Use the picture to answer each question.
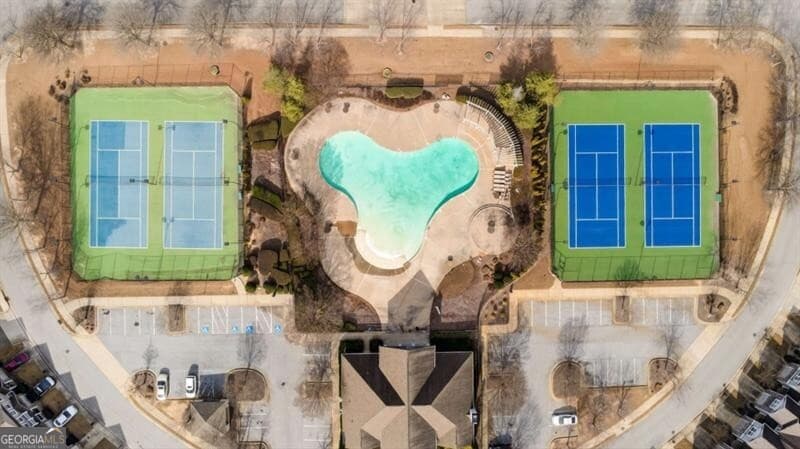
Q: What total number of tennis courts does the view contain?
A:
4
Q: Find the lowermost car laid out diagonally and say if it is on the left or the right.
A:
left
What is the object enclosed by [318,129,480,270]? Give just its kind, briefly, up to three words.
swimming pool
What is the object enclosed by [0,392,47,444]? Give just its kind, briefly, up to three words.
house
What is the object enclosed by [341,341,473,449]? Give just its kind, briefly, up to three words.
building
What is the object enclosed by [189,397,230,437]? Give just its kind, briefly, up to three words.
building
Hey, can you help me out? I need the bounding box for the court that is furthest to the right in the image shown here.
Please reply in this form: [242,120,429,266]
[635,90,717,280]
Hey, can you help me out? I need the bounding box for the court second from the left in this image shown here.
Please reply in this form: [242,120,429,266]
[156,86,241,280]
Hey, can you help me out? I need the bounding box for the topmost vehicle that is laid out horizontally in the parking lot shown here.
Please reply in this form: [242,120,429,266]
[552,412,578,425]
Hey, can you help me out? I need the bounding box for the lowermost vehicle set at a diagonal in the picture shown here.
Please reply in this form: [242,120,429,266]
[51,404,77,426]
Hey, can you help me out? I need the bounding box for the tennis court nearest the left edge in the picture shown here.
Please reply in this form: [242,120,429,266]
[70,87,156,280]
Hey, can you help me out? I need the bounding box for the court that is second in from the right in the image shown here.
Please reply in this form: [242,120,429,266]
[551,90,635,281]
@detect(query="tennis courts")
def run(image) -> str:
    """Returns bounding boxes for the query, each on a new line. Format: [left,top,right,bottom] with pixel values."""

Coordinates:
[156,86,241,280]
[635,90,717,280]
[551,90,635,281]
[70,87,156,280]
